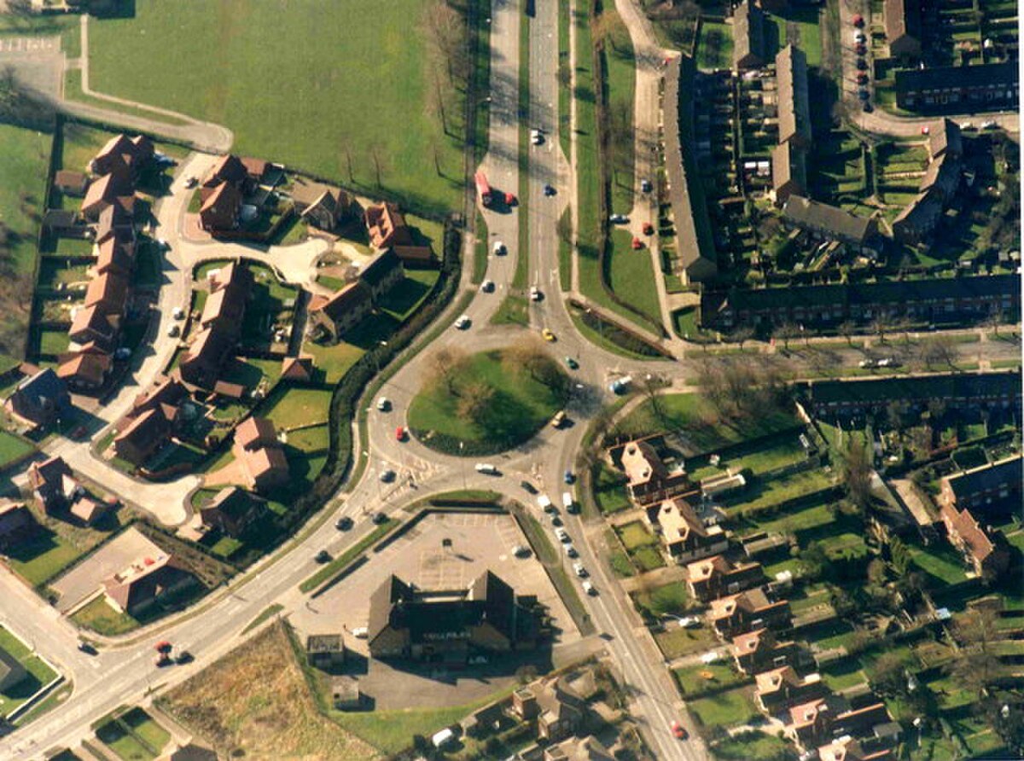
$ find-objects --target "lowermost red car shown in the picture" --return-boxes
[672,724,685,740]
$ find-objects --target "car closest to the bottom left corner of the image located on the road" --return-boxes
[78,642,96,655]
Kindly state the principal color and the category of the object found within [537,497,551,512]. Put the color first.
white vehicle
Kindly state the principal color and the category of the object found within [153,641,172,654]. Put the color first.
red vehicle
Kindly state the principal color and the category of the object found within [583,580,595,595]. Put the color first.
white vehicle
